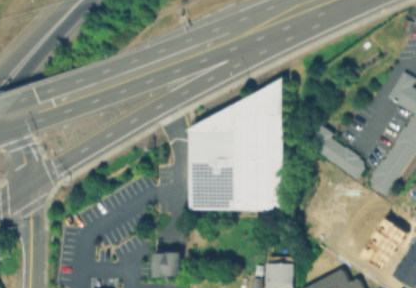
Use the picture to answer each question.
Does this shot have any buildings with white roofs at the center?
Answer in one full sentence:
Yes, you'll find a building with a white roof at the center.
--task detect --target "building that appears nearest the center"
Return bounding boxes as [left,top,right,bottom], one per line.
[188,78,283,211]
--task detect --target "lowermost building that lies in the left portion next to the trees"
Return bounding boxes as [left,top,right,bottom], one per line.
[150,252,180,278]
